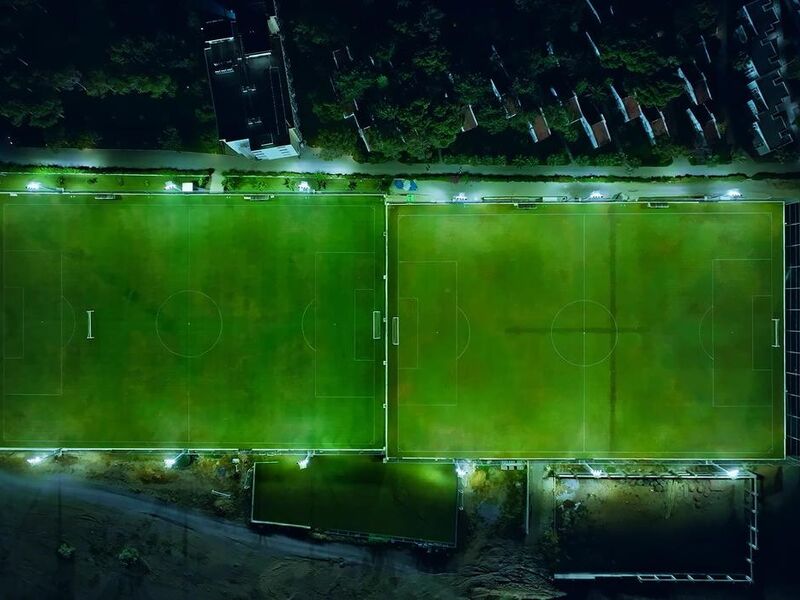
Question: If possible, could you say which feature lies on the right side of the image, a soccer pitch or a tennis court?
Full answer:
It is a soccer pitch that can be seen on the right side of the image.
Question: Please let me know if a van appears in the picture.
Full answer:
No, the frame has no van in it.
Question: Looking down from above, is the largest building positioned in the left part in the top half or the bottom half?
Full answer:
You can find the largest building positioned in the left part in the top half.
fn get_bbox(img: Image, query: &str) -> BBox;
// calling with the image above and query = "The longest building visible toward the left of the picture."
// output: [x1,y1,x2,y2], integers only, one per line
[203,5,300,162]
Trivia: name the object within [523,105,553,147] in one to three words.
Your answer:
house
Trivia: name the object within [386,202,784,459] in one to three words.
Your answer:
soccer field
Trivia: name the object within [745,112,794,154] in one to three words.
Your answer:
building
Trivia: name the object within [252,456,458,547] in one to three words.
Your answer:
sports field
